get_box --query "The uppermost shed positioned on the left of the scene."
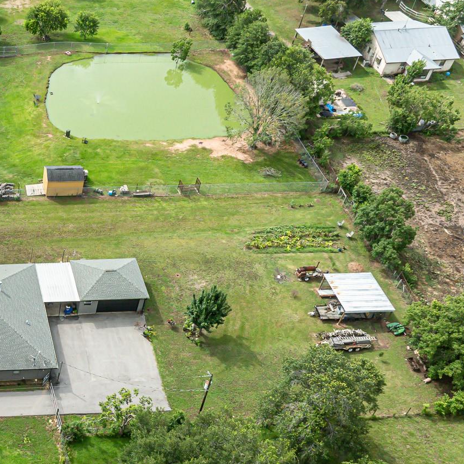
[31,169,88,196]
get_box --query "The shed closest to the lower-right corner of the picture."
[314,272,395,325]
